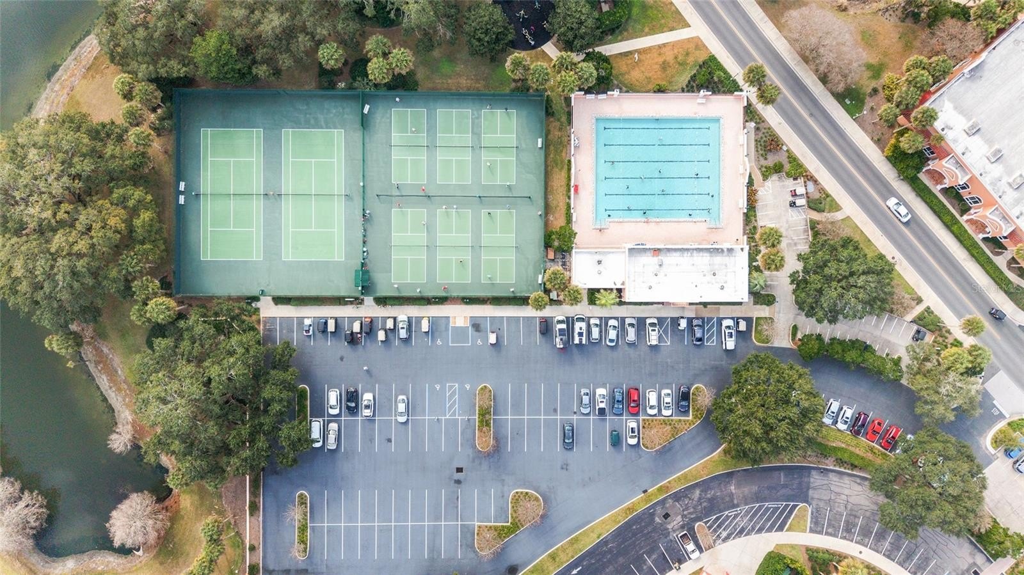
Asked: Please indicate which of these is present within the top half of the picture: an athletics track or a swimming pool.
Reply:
swimming pool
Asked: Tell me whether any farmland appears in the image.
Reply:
No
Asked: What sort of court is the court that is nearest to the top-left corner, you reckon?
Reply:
tennis court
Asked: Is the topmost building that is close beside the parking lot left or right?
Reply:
right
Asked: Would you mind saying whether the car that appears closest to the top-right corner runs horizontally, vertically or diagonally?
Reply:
diagonally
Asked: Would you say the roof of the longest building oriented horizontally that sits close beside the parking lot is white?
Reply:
Yes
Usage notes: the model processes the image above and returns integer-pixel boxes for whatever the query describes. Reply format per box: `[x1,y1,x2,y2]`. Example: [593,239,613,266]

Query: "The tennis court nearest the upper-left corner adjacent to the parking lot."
[192,129,268,260]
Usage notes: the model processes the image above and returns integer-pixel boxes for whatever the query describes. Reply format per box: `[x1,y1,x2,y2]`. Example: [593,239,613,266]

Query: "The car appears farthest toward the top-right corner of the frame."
[885,197,910,223]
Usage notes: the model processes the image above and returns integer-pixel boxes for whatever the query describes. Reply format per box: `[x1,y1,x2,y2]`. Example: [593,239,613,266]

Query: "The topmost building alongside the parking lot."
[898,18,1024,272]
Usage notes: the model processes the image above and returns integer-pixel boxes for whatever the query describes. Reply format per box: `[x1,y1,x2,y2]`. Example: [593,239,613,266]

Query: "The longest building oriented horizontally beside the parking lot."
[571,247,748,307]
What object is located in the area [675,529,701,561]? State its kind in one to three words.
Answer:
truck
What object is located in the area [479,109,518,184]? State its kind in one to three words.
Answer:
sports court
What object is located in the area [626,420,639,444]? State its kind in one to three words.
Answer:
vehicle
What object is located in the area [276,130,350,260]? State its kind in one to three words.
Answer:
tennis court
